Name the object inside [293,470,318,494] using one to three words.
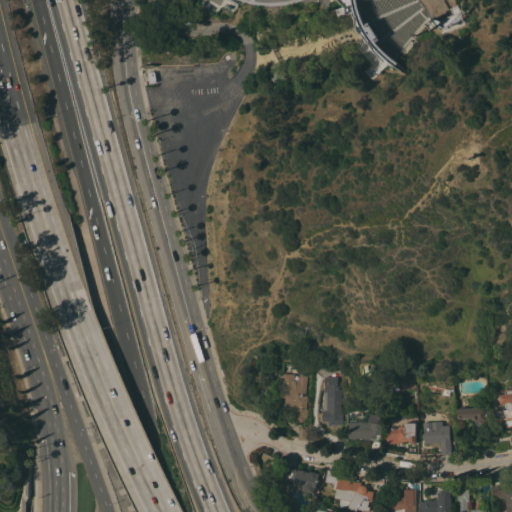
house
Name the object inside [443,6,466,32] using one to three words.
building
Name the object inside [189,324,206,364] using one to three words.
vehicle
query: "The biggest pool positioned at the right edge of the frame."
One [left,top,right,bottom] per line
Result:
[460,378,487,396]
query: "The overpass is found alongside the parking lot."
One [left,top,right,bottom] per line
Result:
[0,122,182,512]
